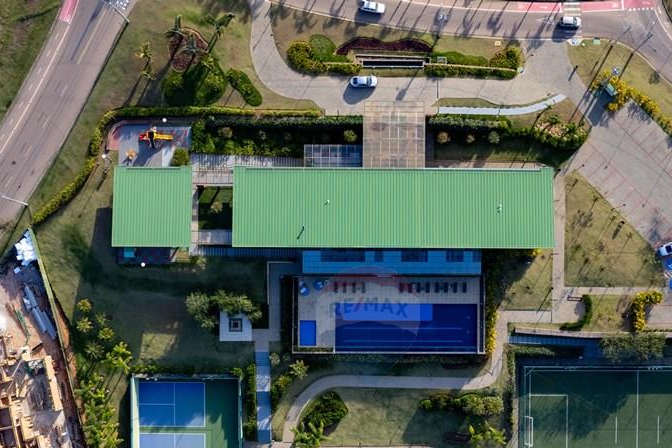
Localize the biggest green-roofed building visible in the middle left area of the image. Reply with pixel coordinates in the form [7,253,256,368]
[111,166,194,249]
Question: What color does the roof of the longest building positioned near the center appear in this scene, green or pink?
green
